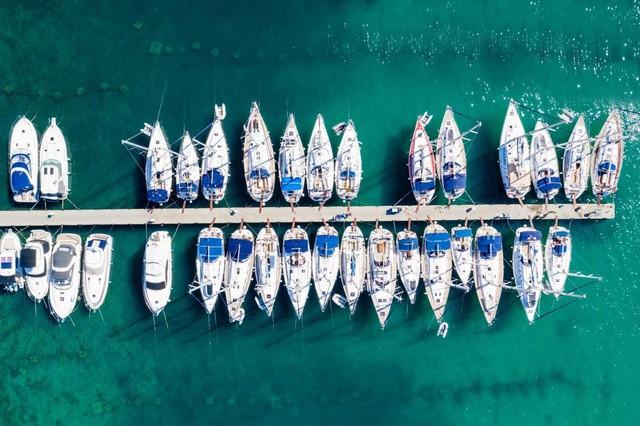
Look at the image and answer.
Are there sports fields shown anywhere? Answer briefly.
No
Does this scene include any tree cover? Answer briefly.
No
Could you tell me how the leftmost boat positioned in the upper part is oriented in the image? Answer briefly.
vertically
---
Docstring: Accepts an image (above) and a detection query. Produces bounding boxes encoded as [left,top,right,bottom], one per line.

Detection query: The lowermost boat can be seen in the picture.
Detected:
[437,323,449,340]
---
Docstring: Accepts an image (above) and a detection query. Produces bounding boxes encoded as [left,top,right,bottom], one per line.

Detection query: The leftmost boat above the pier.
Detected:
[7,114,43,211]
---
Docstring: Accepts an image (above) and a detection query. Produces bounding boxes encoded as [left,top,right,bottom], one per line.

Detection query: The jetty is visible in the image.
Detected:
[0,202,614,226]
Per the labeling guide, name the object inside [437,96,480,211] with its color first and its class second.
white boat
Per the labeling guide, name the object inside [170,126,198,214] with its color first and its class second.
white boat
